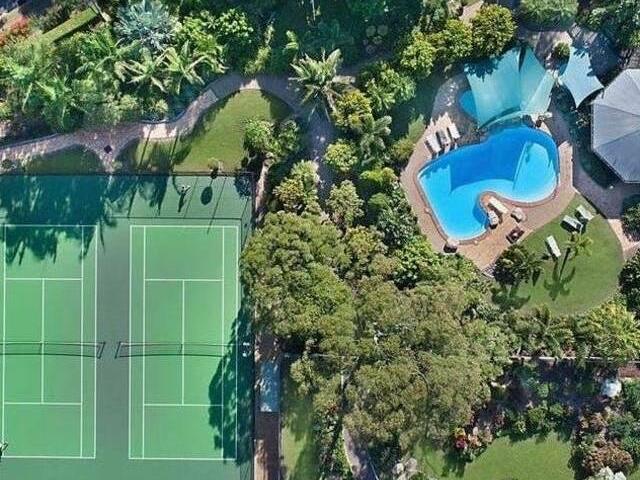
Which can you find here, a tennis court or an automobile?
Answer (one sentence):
It is a tennis court that can be seen here.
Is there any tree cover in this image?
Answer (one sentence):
Yes, the picture does contain tree cover.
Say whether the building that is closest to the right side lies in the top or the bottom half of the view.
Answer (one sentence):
The building that is closest to the right side is in the top half of the image.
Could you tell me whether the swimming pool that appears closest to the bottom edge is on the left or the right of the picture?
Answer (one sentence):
It is on the right.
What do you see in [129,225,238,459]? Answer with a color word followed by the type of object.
green tennis court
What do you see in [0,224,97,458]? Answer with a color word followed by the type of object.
green tennis court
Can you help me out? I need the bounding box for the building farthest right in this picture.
[583,71,640,178]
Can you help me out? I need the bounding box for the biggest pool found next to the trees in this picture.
[414,122,562,245]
